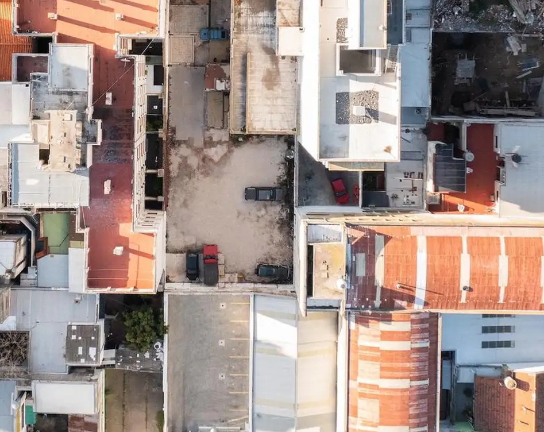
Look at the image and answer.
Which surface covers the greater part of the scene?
buildings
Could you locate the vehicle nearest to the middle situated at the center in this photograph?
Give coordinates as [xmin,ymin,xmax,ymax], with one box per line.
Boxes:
[243,185,282,203]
